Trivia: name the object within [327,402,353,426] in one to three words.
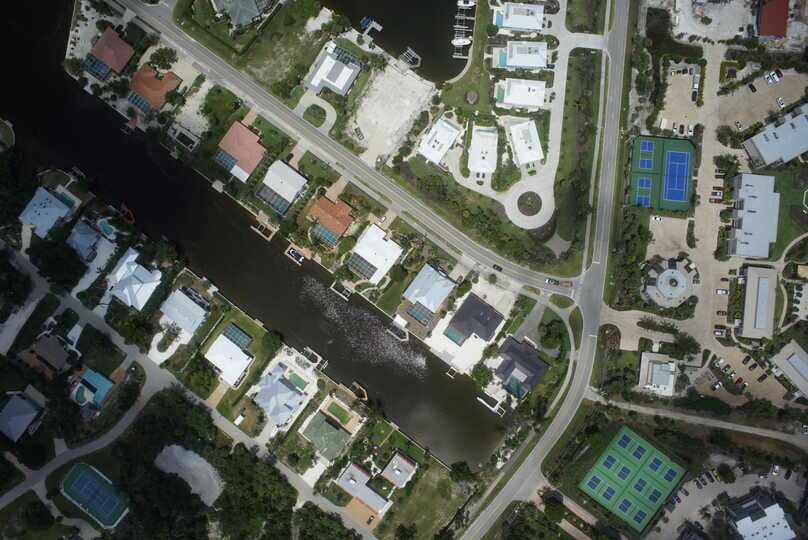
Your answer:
swimming pool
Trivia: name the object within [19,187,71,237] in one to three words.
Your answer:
house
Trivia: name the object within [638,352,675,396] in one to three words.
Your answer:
building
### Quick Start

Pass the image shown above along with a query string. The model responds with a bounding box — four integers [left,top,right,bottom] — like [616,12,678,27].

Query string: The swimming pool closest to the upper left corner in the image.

[82,53,110,80]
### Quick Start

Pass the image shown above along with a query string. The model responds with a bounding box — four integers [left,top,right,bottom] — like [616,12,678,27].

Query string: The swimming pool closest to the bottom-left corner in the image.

[72,383,94,406]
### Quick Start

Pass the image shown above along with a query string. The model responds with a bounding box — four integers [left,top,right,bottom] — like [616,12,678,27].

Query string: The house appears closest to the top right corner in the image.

[754,0,789,37]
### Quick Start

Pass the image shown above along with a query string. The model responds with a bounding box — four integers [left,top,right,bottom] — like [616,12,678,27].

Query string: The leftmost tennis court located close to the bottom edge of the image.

[63,463,127,527]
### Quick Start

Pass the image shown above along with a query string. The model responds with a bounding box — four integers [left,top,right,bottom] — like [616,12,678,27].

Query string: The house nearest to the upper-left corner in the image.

[82,28,134,81]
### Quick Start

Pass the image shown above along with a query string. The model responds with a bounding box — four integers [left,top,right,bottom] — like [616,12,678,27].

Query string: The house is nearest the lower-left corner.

[0,384,49,442]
